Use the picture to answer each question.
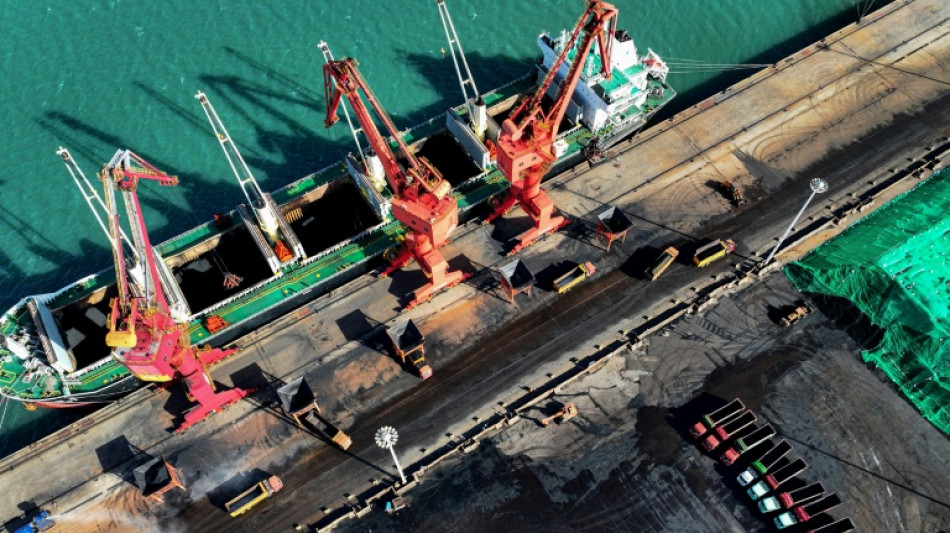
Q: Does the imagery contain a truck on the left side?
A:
Yes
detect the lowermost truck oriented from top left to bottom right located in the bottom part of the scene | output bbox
[302,406,358,453]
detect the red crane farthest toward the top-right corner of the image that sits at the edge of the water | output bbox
[482,0,626,255]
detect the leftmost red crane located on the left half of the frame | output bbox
[86,154,258,434]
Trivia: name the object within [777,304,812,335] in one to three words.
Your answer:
work vehicle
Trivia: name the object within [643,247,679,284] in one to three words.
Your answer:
truck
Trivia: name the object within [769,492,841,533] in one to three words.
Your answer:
truck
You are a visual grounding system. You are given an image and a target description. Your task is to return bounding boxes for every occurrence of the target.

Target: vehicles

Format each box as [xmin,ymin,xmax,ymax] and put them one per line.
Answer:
[224,473,287,517]
[691,239,738,270]
[404,345,434,384]
[753,481,825,517]
[722,174,747,197]
[302,406,358,453]
[544,399,581,428]
[699,410,757,457]
[777,304,812,335]
[809,517,856,533]
[687,398,745,443]
[732,438,792,490]
[743,457,807,503]
[643,247,679,284]
[717,424,776,470]
[551,260,596,296]
[386,496,407,517]
[769,492,841,533]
